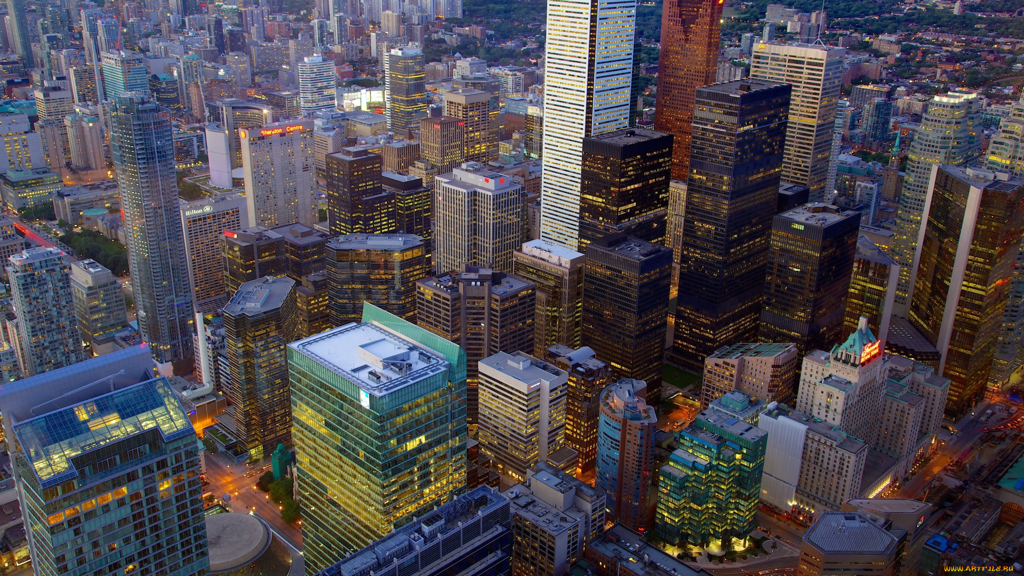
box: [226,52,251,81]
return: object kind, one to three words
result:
building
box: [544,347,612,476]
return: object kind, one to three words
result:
building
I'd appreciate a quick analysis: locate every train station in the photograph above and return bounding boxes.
[995,458,1024,525]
